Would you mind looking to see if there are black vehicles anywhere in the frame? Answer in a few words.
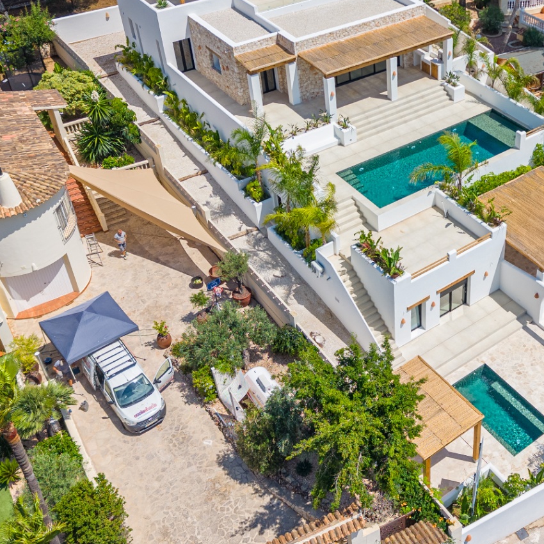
No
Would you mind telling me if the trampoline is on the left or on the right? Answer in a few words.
left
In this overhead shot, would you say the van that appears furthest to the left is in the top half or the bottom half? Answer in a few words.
bottom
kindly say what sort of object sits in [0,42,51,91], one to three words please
trampoline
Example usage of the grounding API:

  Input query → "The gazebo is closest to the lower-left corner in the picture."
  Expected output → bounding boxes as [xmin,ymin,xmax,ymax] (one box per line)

[38,292,149,393]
